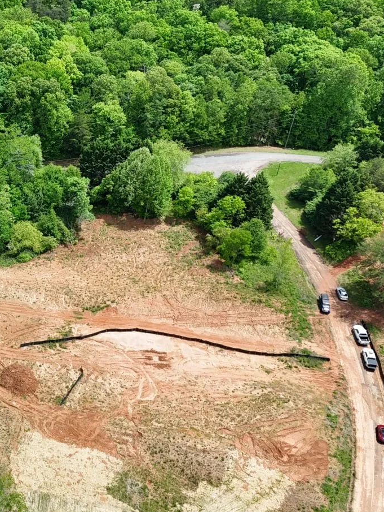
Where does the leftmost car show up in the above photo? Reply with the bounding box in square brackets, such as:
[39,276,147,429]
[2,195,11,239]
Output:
[318,294,332,312]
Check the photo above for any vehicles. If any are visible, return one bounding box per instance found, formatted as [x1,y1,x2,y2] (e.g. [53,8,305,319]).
[318,294,332,312]
[377,423,384,443]
[353,325,371,347]
[335,286,352,300]
[363,349,381,372]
